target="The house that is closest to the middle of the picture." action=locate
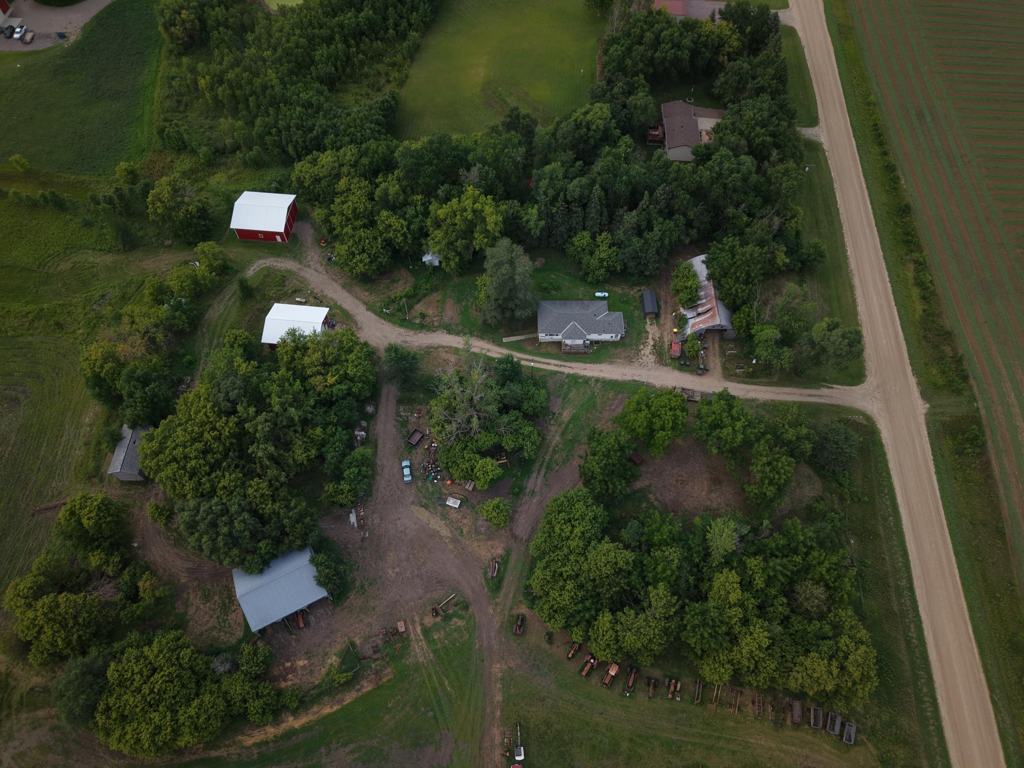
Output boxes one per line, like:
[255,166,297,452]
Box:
[536,300,625,345]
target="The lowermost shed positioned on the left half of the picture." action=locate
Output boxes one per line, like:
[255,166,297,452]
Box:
[233,536,333,635]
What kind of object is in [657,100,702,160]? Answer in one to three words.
house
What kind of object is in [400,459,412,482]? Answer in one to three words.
vehicle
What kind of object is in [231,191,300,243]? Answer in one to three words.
barn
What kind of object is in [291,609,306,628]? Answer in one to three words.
work vehicle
